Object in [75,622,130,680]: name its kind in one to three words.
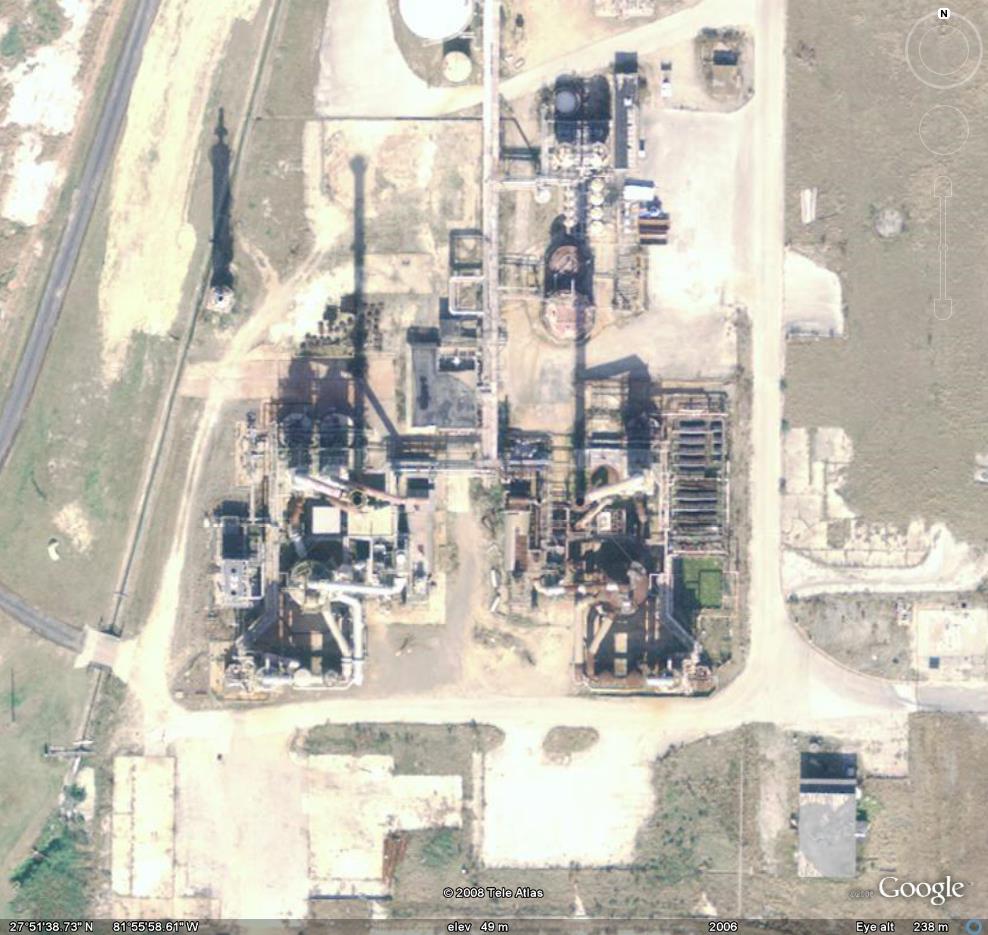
bridge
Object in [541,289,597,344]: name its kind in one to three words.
storage tank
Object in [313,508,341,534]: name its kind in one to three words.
building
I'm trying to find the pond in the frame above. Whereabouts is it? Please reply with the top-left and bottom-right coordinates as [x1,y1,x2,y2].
[674,556,724,608]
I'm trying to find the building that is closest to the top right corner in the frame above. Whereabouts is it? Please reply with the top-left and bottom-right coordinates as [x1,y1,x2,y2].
[713,65,737,78]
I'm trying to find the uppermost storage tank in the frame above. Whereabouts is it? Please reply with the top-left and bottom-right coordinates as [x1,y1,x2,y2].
[396,0,476,41]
